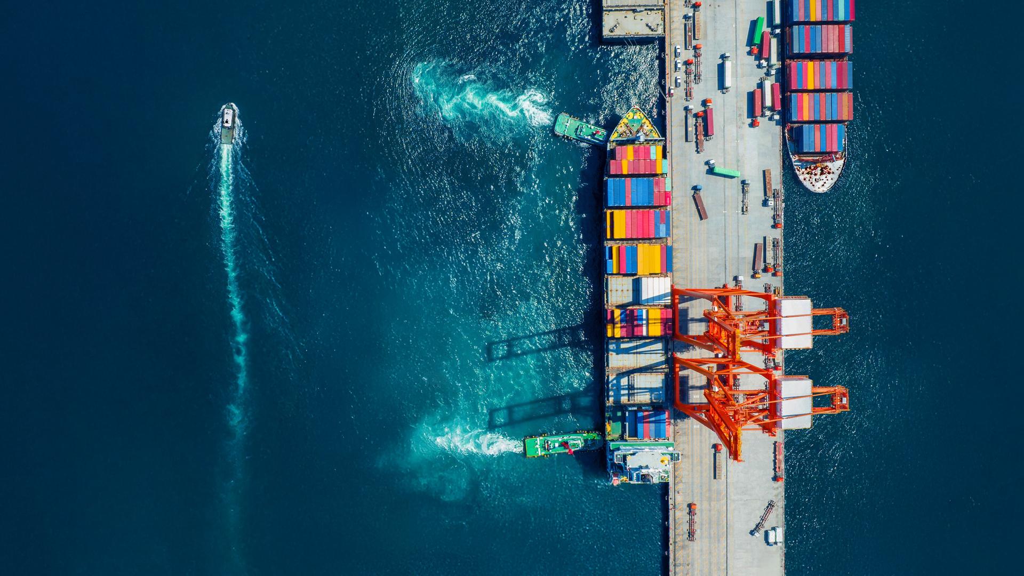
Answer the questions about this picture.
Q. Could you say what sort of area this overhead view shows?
port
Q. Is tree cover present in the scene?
No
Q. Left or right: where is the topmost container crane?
right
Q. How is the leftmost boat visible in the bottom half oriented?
from side to side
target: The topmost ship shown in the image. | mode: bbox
[602,0,664,41]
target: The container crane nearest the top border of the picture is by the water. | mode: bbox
[672,286,849,360]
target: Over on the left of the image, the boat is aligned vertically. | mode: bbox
[221,103,236,146]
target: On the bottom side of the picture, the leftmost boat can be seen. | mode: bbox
[524,432,604,460]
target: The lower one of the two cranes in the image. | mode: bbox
[672,355,849,459]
